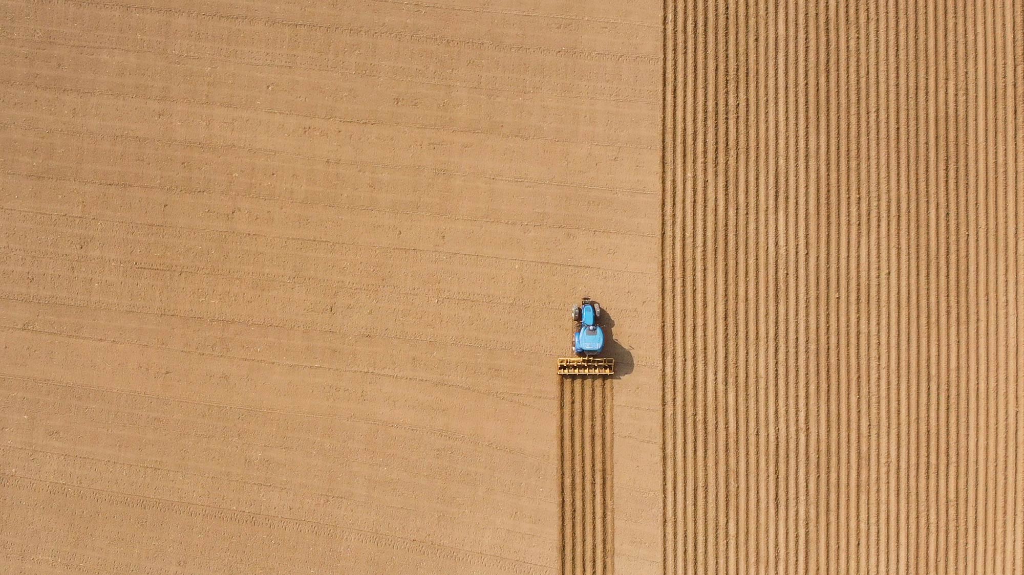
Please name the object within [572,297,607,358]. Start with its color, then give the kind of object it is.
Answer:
blue work vehicle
